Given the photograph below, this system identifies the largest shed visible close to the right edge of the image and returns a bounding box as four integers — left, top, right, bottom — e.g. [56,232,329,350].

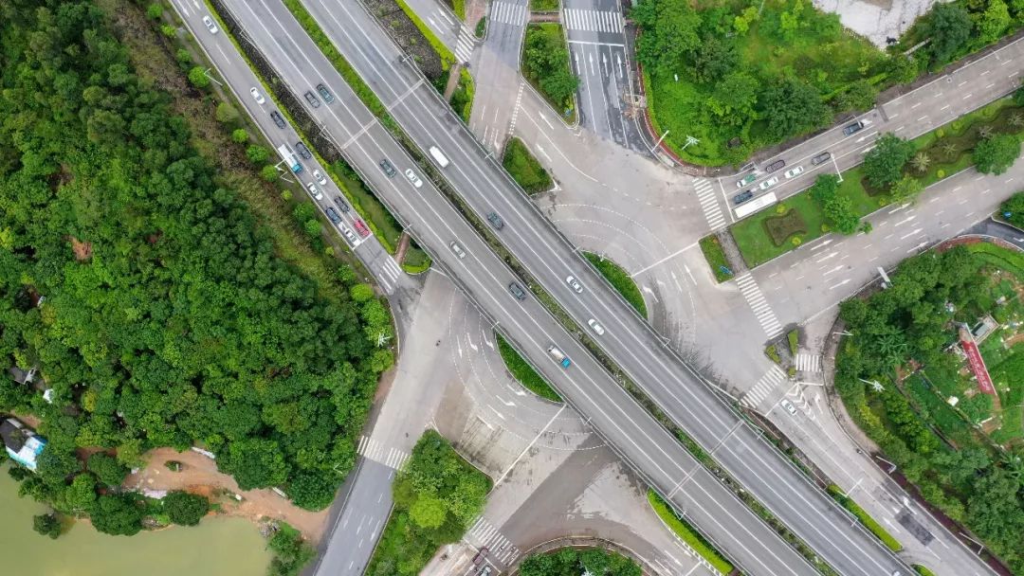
[971,314,1001,345]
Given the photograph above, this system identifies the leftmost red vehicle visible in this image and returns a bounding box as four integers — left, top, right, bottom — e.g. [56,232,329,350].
[354,218,370,236]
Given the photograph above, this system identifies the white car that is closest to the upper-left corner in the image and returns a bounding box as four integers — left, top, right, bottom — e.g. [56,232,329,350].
[202,15,219,34]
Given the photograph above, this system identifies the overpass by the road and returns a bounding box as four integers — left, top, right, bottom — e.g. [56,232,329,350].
[214,0,921,576]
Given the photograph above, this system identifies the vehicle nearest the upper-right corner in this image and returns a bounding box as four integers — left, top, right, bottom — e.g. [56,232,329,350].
[841,120,864,136]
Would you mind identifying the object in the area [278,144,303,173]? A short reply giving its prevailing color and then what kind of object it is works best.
white truck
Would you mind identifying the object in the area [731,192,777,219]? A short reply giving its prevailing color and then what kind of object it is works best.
white bus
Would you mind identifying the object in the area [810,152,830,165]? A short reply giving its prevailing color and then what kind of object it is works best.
gray vehicle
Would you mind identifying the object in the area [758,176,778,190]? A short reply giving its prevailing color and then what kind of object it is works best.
white car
